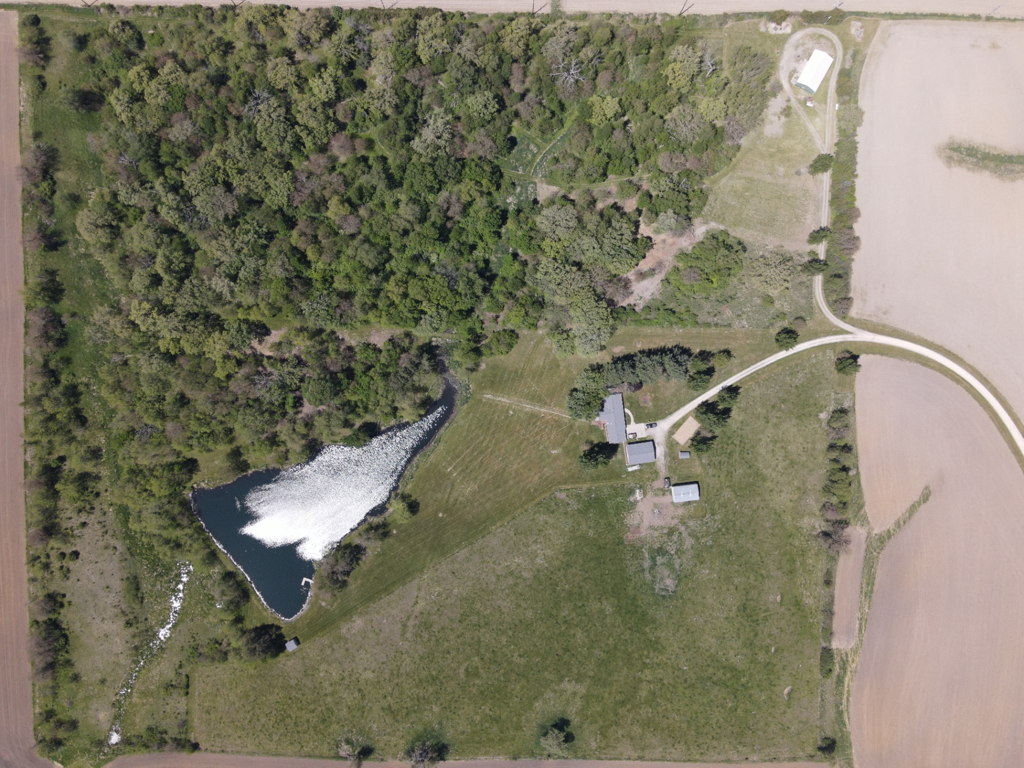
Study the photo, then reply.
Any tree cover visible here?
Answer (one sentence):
Yes, there is tree cover in the image.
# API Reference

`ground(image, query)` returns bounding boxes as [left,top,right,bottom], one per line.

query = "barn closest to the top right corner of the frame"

[795,49,834,94]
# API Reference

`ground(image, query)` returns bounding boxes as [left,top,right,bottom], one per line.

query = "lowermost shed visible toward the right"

[671,484,699,502]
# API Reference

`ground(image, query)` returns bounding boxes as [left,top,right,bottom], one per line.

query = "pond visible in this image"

[194,343,456,619]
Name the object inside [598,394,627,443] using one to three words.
house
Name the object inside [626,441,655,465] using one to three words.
building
